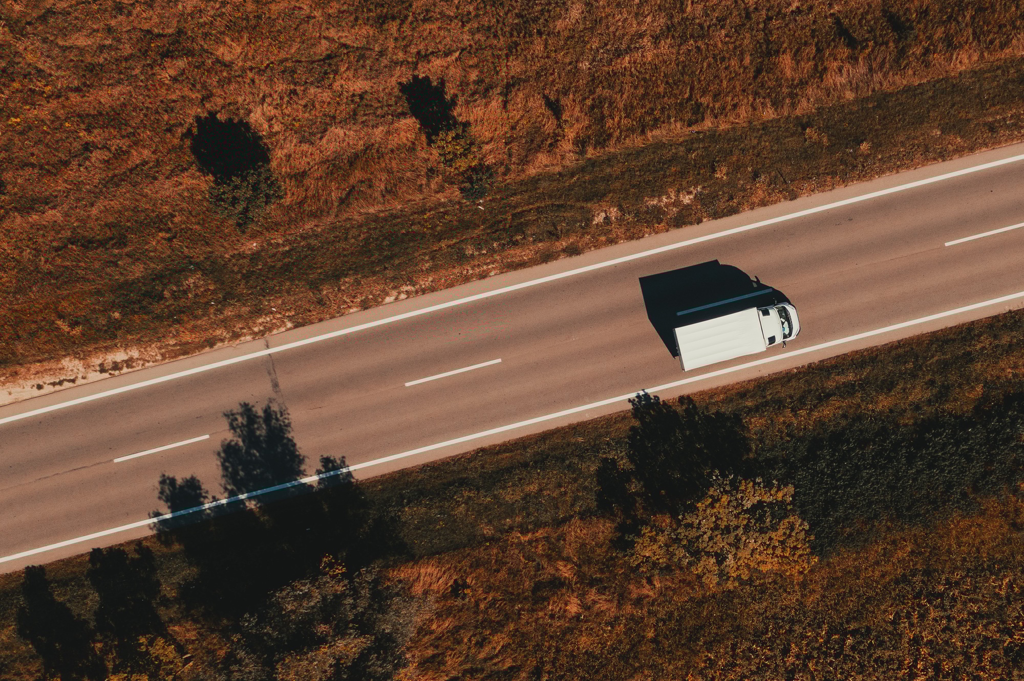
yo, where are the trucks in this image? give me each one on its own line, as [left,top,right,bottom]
[669,297,802,371]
